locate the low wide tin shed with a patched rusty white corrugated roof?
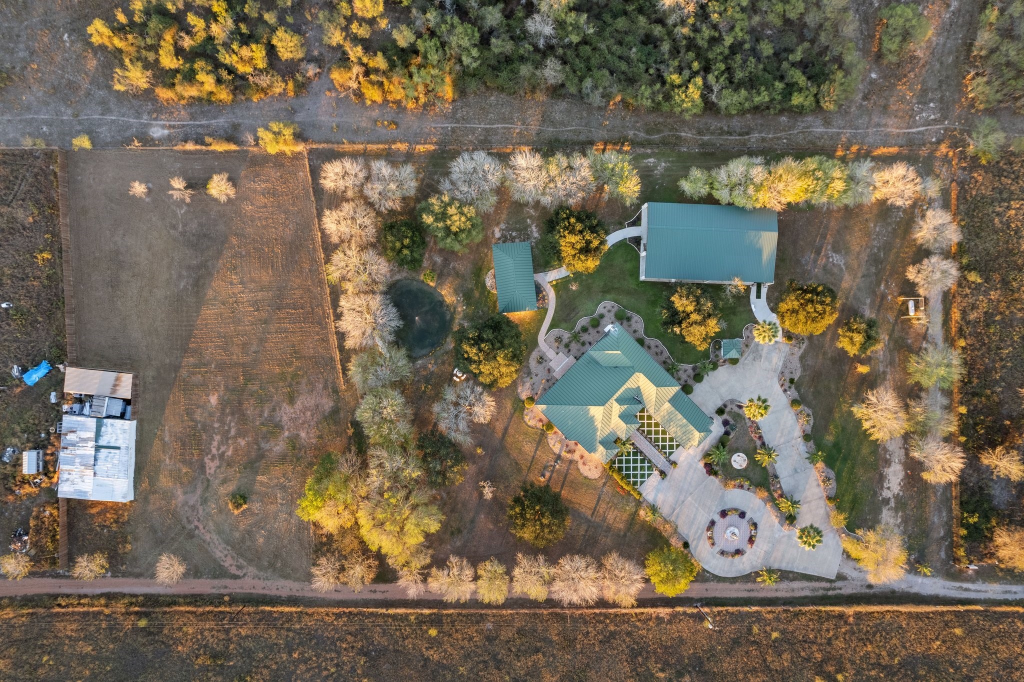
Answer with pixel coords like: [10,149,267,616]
[57,414,139,502]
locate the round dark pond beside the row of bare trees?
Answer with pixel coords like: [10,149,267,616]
[386,279,453,358]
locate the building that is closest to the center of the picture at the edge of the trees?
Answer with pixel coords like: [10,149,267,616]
[492,241,538,313]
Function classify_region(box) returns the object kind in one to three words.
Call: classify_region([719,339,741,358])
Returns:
shed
